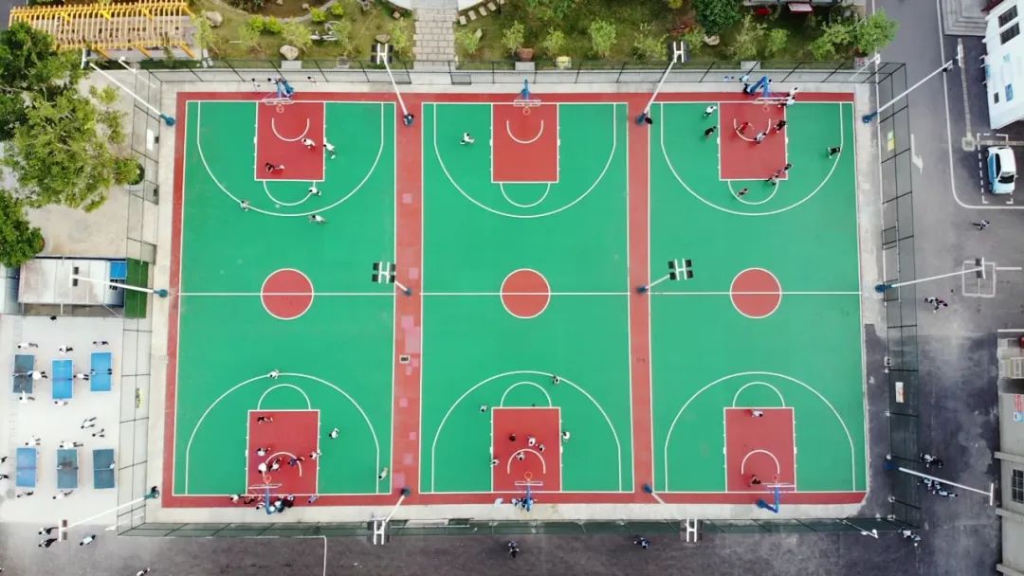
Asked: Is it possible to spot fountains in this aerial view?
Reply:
No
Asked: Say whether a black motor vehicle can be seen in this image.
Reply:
No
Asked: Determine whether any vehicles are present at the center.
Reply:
No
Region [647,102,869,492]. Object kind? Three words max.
basketball court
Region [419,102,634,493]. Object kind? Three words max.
basketball court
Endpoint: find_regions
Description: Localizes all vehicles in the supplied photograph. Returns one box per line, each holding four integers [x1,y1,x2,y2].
[986,145,1022,193]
